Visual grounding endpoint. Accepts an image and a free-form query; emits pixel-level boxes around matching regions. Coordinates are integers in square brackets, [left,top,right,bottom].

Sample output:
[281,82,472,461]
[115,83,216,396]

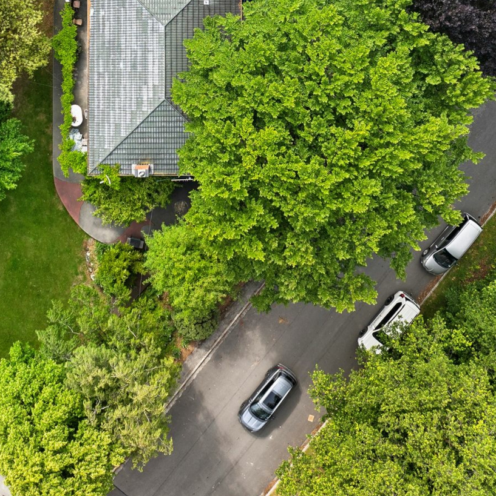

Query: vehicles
[421,210,486,278]
[356,288,422,362]
[239,362,298,432]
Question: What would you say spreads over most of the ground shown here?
trees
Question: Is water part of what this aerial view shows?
No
